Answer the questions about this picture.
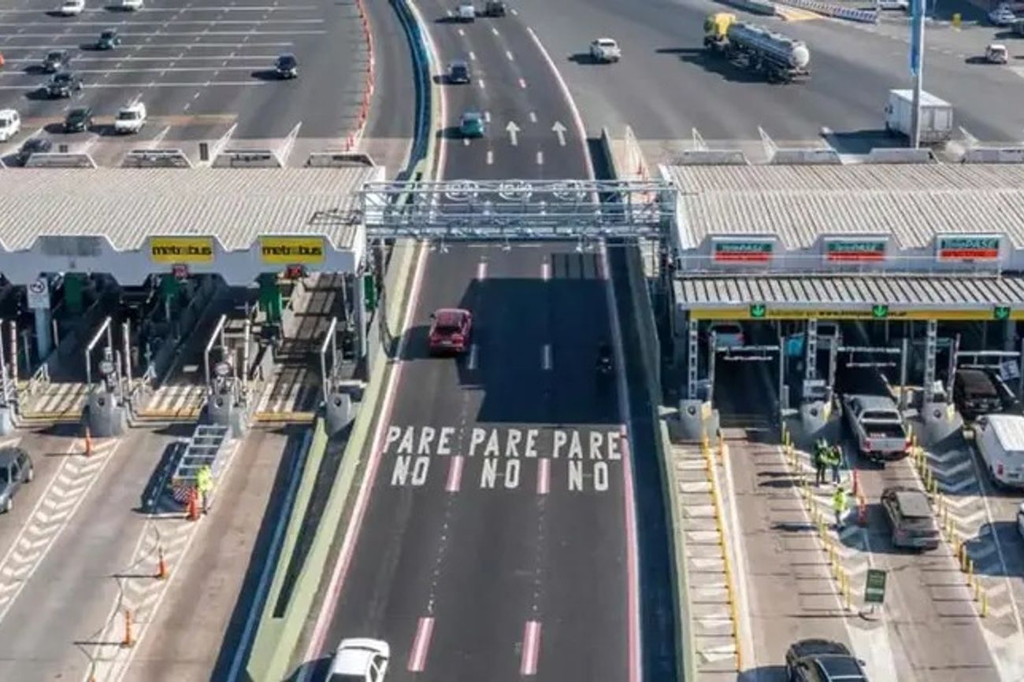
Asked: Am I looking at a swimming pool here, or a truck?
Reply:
truck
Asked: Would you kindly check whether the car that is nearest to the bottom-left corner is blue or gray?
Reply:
gray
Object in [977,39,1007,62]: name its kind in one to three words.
vehicle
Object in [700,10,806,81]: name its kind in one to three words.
truck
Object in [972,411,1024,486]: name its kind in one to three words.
van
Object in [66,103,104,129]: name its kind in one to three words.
car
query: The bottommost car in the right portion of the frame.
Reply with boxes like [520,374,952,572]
[786,639,872,682]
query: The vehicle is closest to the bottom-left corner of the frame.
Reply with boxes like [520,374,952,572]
[0,451,38,515]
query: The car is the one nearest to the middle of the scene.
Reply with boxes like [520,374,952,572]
[431,311,474,350]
